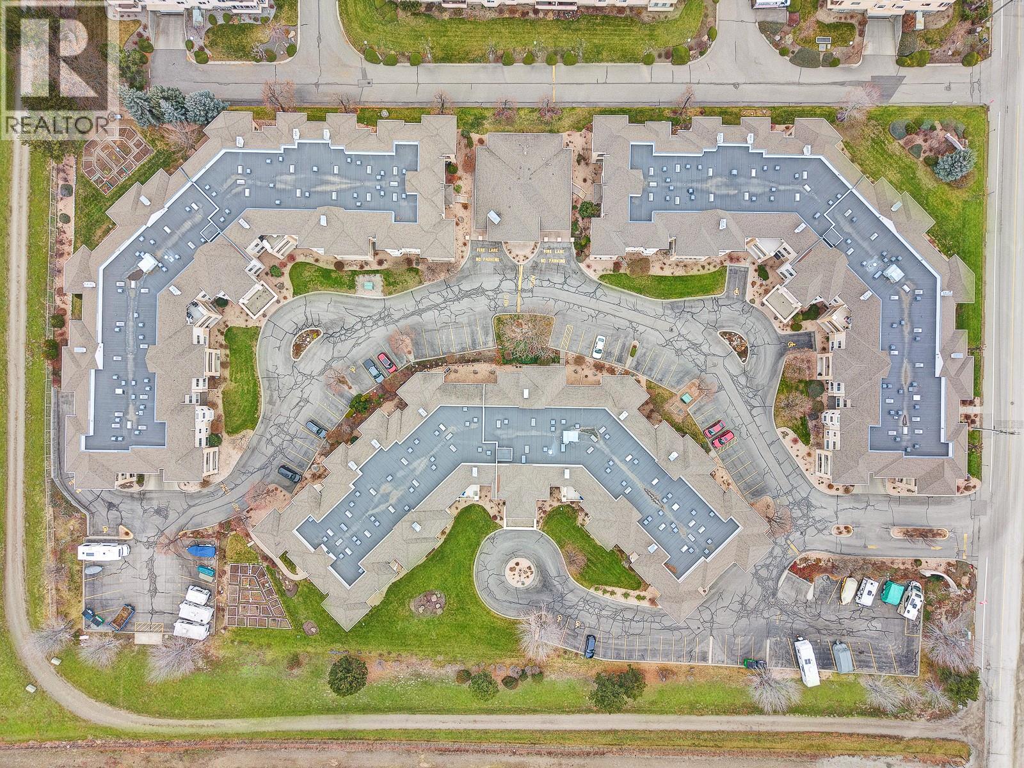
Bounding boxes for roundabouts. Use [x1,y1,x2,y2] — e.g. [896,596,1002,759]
[504,554,542,590]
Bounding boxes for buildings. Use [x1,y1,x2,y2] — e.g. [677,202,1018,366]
[61,111,458,490]
[250,366,775,632]
[103,0,275,19]
[465,132,574,244]
[382,0,679,12]
[828,0,959,22]
[588,115,975,495]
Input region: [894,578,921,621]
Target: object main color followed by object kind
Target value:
white camper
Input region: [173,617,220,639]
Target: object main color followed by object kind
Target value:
white trailer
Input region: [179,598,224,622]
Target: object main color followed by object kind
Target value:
white trailer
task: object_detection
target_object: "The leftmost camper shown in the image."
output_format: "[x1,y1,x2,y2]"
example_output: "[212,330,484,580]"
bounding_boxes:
[78,542,138,560]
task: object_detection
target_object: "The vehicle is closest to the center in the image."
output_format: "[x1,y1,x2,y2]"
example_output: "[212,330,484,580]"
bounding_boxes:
[592,334,606,359]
